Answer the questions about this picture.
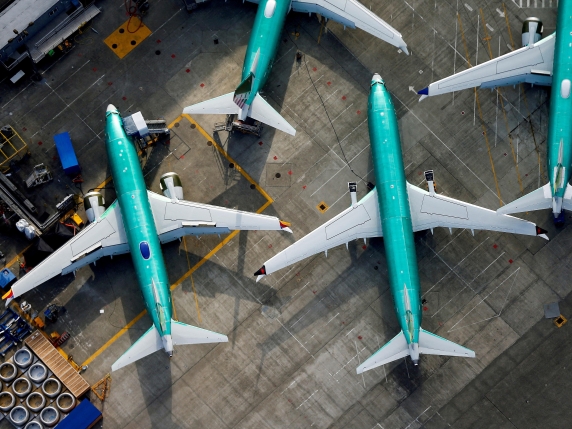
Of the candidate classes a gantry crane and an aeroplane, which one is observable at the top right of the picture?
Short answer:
aeroplane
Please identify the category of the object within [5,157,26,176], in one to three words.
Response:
work vehicle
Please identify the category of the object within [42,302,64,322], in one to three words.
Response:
work vehicle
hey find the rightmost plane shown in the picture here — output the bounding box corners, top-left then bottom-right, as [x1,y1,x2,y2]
[419,0,572,230]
